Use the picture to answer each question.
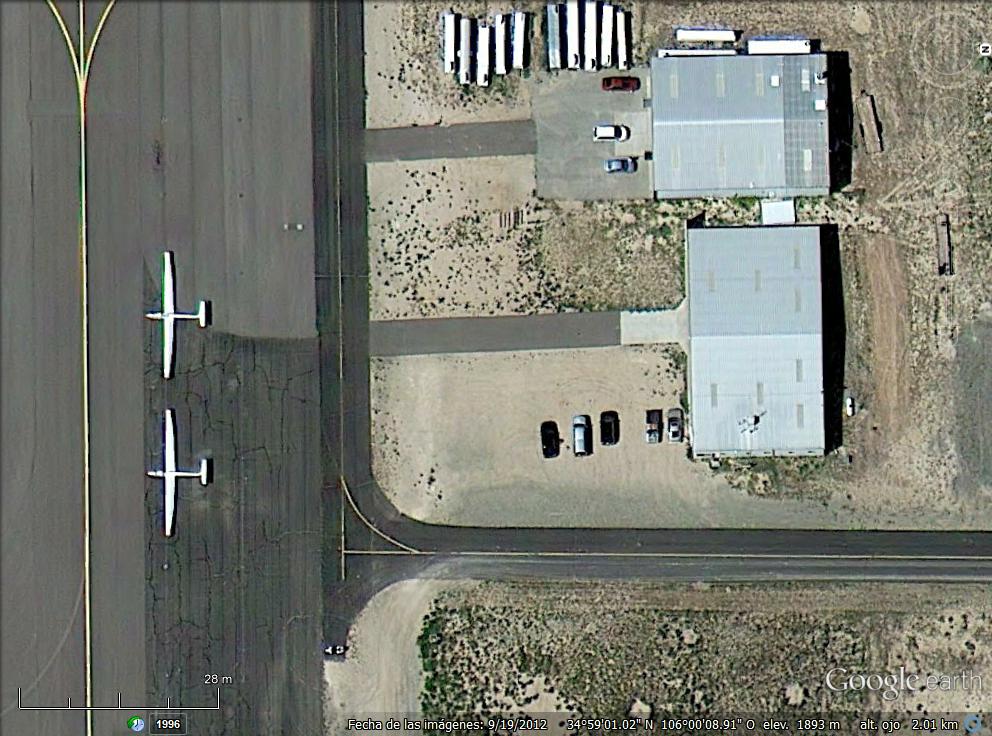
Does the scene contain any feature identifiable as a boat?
No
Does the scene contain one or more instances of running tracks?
No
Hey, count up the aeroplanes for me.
2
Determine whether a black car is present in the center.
Yes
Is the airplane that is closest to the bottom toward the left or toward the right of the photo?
left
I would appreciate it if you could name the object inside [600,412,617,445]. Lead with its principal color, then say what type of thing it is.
black car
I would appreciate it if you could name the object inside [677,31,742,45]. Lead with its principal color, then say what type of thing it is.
white vehicle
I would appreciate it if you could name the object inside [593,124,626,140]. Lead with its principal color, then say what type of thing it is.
white car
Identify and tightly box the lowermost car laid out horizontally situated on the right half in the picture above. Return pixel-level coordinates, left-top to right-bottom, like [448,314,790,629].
[604,158,635,173]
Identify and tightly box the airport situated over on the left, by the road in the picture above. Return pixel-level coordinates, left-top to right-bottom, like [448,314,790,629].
[0,0,447,736]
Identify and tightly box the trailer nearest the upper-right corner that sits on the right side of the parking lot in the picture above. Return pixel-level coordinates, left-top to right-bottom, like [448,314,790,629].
[856,90,881,154]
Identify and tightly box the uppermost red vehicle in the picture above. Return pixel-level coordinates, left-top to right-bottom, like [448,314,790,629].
[602,77,637,92]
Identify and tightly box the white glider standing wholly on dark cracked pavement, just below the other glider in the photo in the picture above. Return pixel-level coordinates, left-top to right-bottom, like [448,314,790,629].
[147,409,206,537]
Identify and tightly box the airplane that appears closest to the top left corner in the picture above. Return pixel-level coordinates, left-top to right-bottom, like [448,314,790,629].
[147,253,205,379]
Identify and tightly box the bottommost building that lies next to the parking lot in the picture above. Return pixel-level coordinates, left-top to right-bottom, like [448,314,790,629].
[686,213,826,459]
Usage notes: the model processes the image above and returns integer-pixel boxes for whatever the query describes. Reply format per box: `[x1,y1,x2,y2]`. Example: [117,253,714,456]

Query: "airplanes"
[147,253,205,379]
[147,409,206,537]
